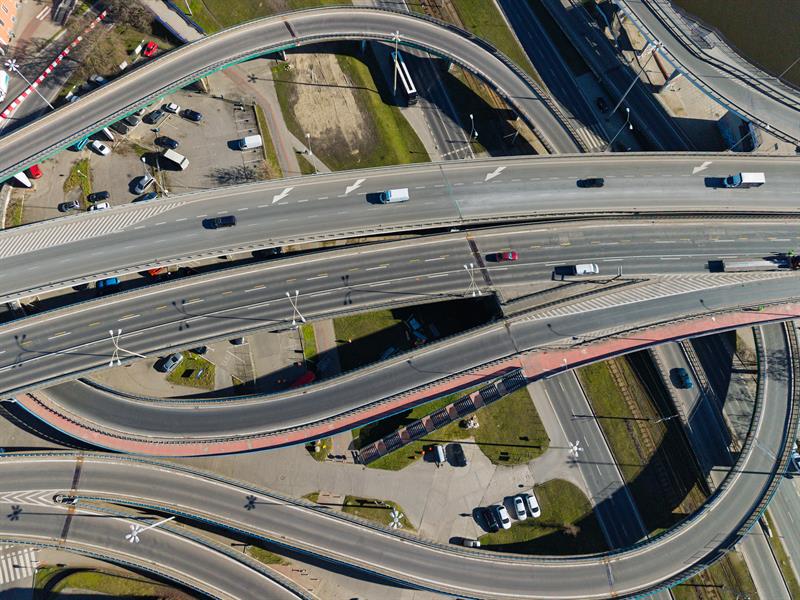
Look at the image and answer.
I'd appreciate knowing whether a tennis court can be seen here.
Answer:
No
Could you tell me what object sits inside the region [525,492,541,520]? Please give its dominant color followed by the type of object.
white car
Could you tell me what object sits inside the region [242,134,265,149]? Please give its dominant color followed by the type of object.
white vehicle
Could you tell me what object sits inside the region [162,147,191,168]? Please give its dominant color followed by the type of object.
white truck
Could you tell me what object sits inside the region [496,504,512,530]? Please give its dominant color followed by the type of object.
white car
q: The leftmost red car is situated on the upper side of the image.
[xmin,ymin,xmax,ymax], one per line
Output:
[24,165,45,178]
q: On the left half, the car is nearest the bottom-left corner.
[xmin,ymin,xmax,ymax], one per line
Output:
[162,352,184,373]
